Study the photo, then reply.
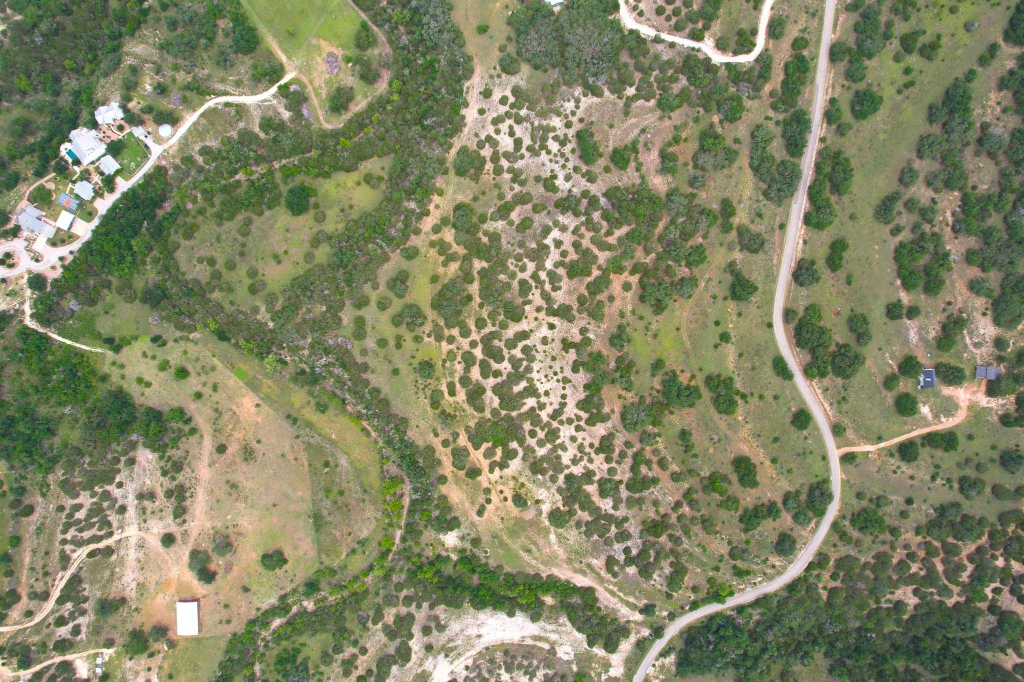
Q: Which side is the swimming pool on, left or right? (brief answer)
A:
left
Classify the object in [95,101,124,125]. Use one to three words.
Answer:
house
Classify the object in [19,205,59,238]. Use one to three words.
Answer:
house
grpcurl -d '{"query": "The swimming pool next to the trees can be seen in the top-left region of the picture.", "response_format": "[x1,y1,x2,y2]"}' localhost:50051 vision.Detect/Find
[60,143,82,163]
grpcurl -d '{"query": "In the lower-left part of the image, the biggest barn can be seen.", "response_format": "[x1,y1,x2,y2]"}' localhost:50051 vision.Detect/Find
[176,599,202,636]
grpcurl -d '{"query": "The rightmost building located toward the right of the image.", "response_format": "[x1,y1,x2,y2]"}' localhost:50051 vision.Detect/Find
[973,366,1000,380]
